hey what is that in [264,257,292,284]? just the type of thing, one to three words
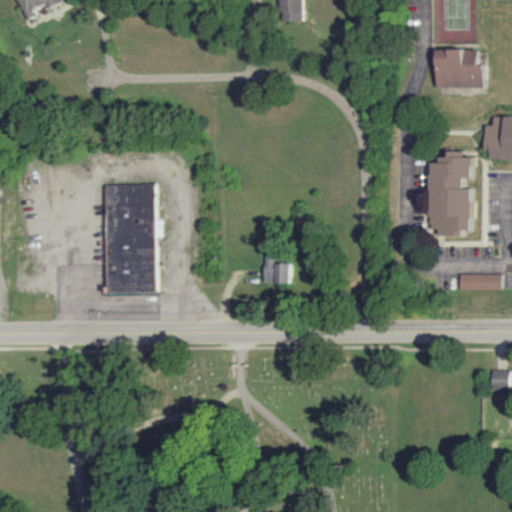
house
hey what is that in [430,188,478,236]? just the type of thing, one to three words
building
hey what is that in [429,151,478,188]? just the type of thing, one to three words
building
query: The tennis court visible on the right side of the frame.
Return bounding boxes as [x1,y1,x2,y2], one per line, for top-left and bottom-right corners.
[436,0,477,44]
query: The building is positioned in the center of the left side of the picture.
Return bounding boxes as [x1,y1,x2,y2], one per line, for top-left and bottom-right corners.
[104,182,166,294]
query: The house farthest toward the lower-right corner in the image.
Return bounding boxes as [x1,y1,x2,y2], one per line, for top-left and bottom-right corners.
[490,370,511,389]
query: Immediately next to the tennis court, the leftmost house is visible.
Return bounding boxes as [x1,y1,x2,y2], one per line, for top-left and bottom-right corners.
[432,50,490,88]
